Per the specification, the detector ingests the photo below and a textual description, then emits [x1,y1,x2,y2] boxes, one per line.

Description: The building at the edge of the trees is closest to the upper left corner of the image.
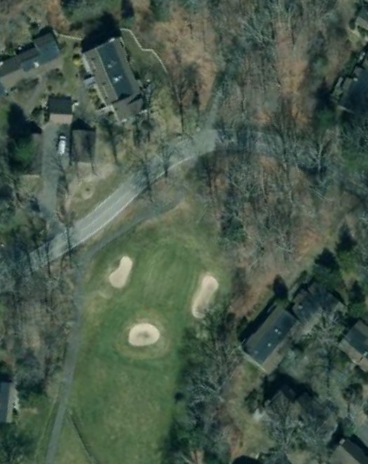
[0,33,62,96]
